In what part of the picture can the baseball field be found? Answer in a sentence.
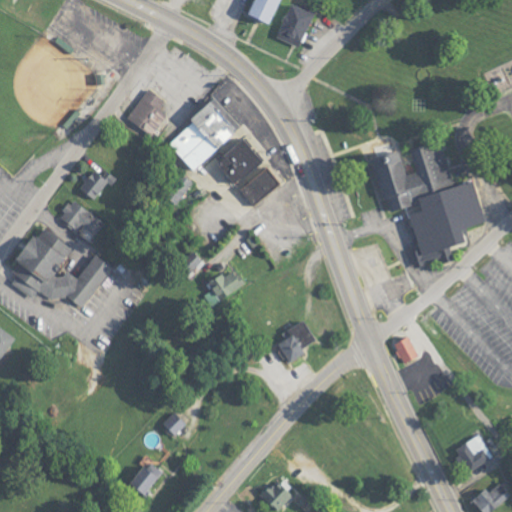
You can find the baseball field in the top left area of the picture.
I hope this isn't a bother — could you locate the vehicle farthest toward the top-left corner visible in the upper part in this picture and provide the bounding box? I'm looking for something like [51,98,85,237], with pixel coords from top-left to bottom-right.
[86,158,104,174]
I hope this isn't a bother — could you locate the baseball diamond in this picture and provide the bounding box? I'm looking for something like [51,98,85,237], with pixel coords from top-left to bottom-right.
[0,10,96,177]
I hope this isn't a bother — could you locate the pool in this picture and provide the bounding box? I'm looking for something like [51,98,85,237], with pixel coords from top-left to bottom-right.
[144,432,164,449]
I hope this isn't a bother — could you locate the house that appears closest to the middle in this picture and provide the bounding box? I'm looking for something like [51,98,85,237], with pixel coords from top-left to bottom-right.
[214,270,245,297]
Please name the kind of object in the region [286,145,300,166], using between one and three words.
vehicle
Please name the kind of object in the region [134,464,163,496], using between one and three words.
house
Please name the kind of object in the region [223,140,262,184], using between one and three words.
building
